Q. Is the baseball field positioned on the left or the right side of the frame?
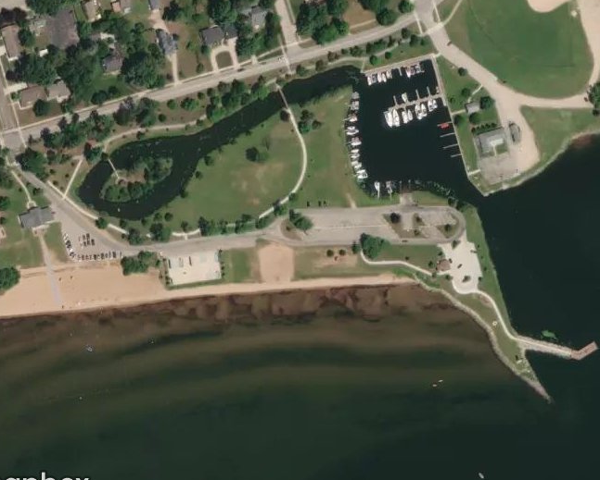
right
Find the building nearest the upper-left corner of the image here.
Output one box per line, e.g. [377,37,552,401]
[0,23,22,56]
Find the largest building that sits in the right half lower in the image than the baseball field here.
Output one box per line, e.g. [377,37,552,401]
[477,127,504,157]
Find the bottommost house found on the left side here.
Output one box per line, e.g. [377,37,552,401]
[28,206,54,227]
